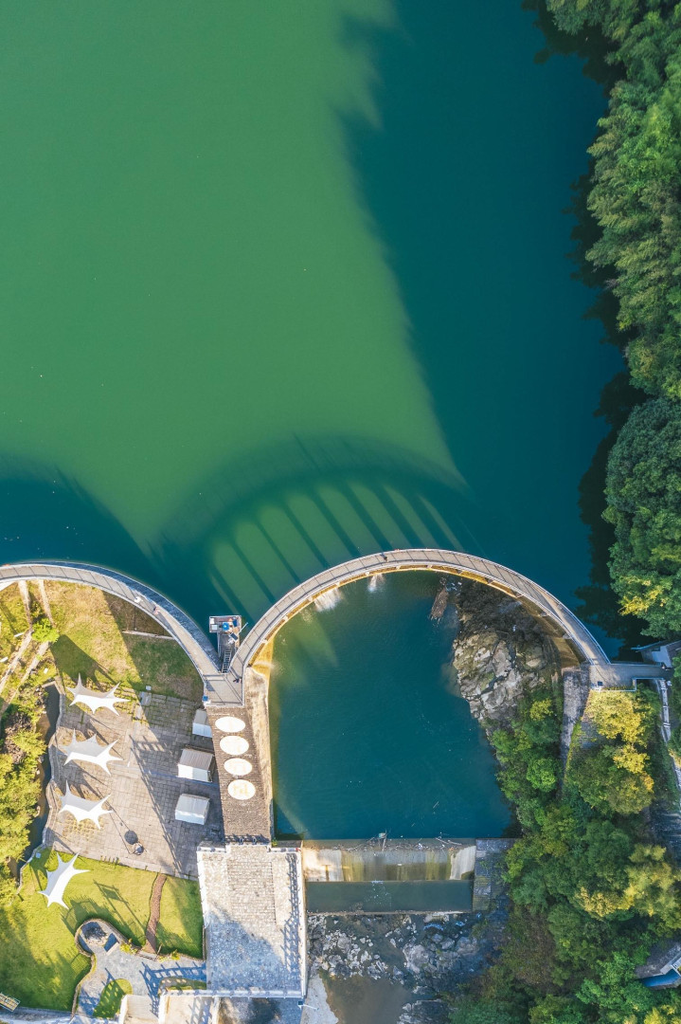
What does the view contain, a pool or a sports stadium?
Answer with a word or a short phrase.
pool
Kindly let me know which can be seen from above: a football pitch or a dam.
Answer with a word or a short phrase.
dam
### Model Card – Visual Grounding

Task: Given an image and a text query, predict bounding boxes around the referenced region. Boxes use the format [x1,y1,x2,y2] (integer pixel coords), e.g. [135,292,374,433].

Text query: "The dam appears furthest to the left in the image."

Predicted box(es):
[0,559,220,676]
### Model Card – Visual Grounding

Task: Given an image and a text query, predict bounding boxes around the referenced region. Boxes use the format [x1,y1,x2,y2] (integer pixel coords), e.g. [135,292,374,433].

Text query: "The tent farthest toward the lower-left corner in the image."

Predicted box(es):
[37,845,93,909]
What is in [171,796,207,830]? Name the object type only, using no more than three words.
shed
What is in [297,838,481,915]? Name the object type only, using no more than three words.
dam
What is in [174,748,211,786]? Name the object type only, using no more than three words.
shed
